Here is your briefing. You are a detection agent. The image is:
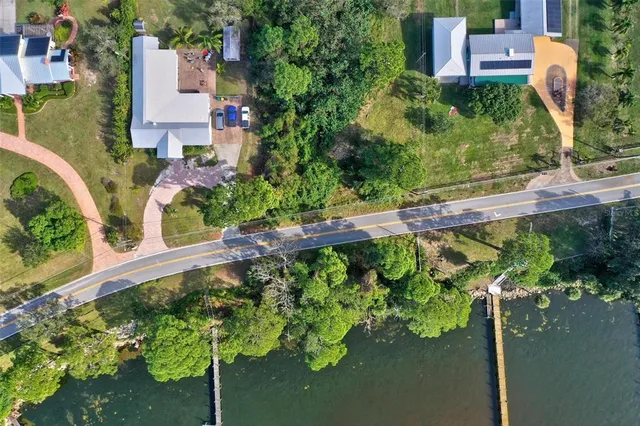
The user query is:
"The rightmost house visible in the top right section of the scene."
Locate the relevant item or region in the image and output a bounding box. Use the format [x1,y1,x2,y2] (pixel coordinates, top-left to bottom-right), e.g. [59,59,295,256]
[464,0,562,86]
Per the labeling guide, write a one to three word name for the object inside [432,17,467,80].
building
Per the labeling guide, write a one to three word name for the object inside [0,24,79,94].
house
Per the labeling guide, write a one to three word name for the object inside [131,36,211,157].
house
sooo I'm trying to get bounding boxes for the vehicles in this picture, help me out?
[215,109,224,130]
[226,106,236,128]
[240,106,249,129]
